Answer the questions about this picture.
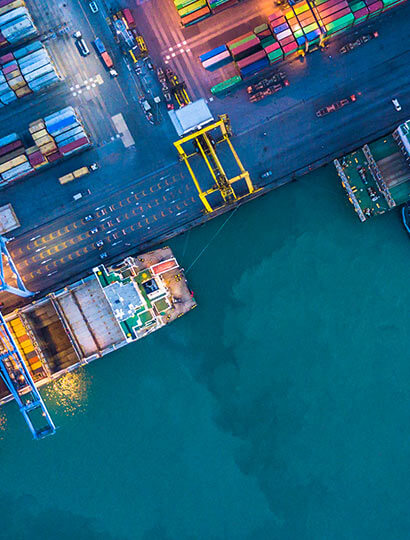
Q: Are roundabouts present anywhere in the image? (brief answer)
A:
No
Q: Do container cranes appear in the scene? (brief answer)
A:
Yes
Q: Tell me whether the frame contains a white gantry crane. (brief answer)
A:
No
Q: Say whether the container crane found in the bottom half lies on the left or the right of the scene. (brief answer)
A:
left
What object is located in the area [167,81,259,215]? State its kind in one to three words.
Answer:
container crane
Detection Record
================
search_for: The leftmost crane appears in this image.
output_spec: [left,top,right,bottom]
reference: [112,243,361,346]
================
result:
[0,230,57,441]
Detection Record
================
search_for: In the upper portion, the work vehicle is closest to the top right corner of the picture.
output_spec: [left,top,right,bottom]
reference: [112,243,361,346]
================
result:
[340,28,382,54]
